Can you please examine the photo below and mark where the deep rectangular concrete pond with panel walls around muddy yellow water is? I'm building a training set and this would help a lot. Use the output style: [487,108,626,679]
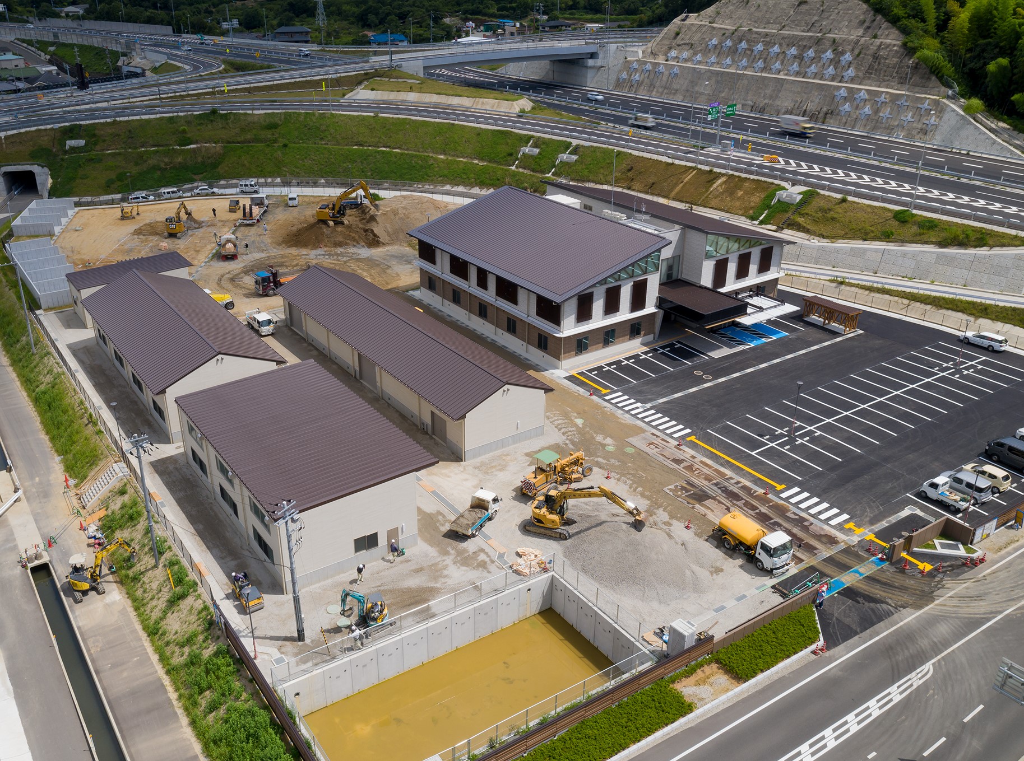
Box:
[277,565,669,761]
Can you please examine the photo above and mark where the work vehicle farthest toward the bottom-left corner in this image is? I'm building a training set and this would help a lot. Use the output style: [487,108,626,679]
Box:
[58,537,141,602]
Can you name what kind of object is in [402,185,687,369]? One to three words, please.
building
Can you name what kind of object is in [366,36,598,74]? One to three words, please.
bridge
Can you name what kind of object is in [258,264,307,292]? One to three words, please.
truck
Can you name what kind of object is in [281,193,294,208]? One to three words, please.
vehicle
